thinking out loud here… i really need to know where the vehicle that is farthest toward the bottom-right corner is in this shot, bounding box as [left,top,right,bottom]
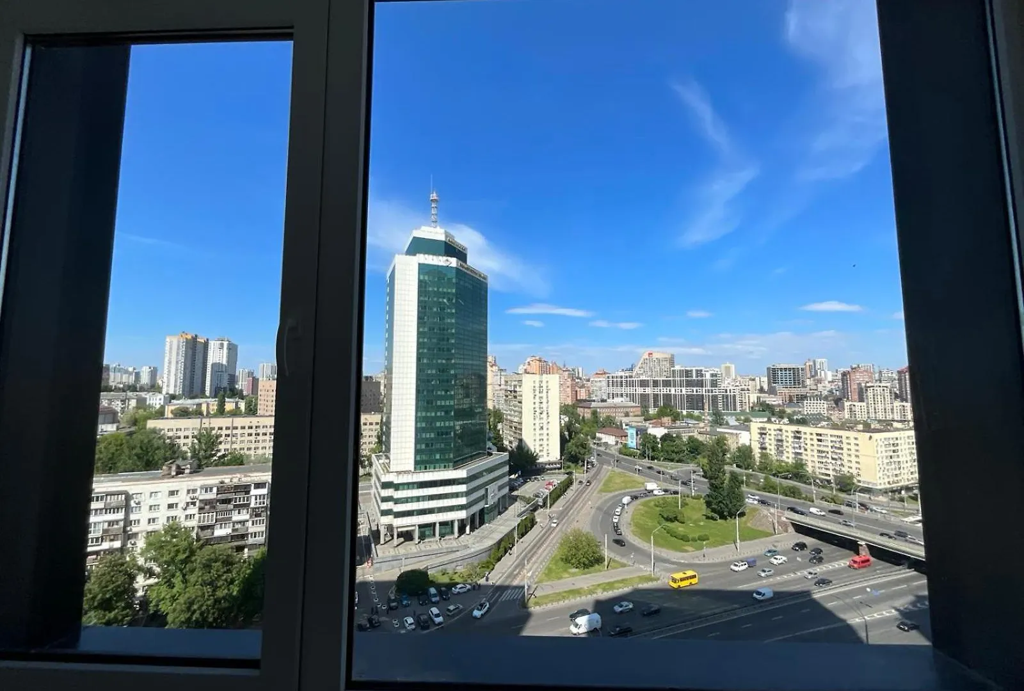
[893,618,921,632]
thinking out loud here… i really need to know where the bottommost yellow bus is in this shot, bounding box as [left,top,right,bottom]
[669,566,698,588]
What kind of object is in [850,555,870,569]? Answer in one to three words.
vehicle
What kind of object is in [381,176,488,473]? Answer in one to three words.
building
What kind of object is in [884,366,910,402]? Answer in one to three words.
building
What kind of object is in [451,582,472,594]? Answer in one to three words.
vehicle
